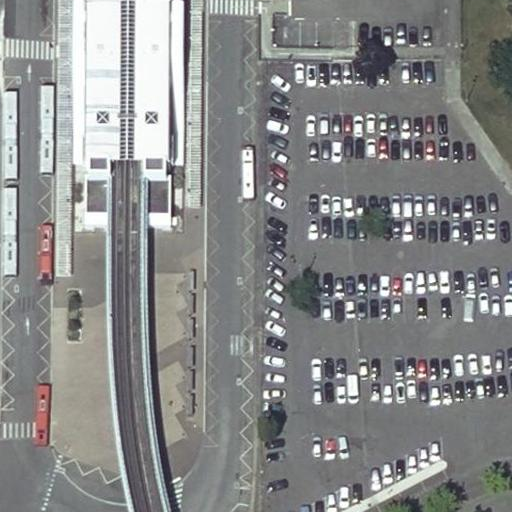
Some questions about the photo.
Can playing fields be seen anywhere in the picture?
No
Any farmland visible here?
No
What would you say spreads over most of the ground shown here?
paved ground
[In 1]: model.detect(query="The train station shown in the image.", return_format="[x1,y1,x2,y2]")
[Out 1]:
[74,0,184,231]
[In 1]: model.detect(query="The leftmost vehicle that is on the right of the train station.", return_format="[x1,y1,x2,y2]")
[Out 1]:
[242,148,256,202]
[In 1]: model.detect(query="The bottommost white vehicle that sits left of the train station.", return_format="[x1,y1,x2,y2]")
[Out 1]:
[4,187,20,278]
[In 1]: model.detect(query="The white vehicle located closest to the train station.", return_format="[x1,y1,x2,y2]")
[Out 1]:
[40,84,56,177]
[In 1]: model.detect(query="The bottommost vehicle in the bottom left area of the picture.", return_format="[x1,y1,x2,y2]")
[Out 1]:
[33,384,52,448]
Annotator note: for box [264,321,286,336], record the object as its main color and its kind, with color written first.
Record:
white car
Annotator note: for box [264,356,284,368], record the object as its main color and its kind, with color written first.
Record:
white vehicle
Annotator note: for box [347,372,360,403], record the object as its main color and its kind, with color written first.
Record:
white vehicle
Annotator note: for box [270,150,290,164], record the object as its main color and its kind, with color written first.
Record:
white car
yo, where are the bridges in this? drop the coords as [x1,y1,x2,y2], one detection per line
[107,160,172,512]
